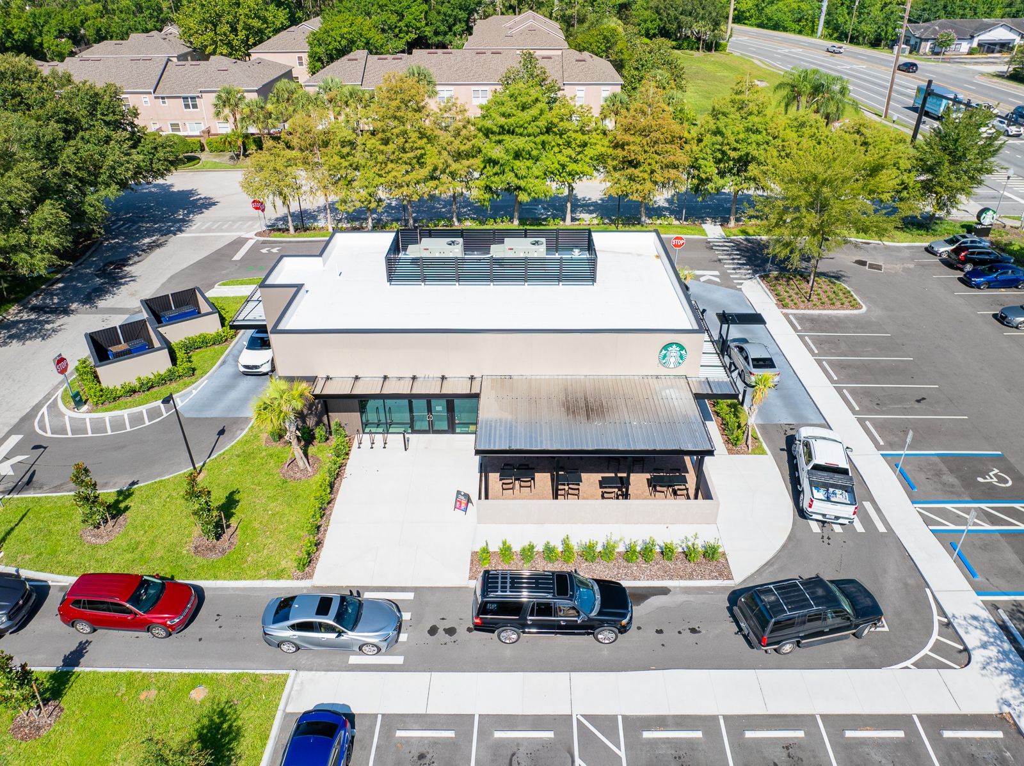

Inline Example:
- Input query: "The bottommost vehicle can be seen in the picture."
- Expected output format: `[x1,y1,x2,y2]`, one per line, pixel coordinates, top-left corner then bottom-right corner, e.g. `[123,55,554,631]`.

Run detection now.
[270,708,343,766]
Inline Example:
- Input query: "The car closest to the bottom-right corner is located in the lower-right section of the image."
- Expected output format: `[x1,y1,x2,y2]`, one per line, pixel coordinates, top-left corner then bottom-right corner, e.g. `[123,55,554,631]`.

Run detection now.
[729,572,890,654]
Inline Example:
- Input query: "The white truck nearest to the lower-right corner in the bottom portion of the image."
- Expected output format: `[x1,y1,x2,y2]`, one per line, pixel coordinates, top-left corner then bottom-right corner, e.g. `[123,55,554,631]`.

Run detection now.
[793,426,863,528]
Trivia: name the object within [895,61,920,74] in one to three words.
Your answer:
vehicle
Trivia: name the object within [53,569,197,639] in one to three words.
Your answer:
car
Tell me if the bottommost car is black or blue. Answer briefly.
blue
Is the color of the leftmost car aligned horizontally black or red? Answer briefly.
red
